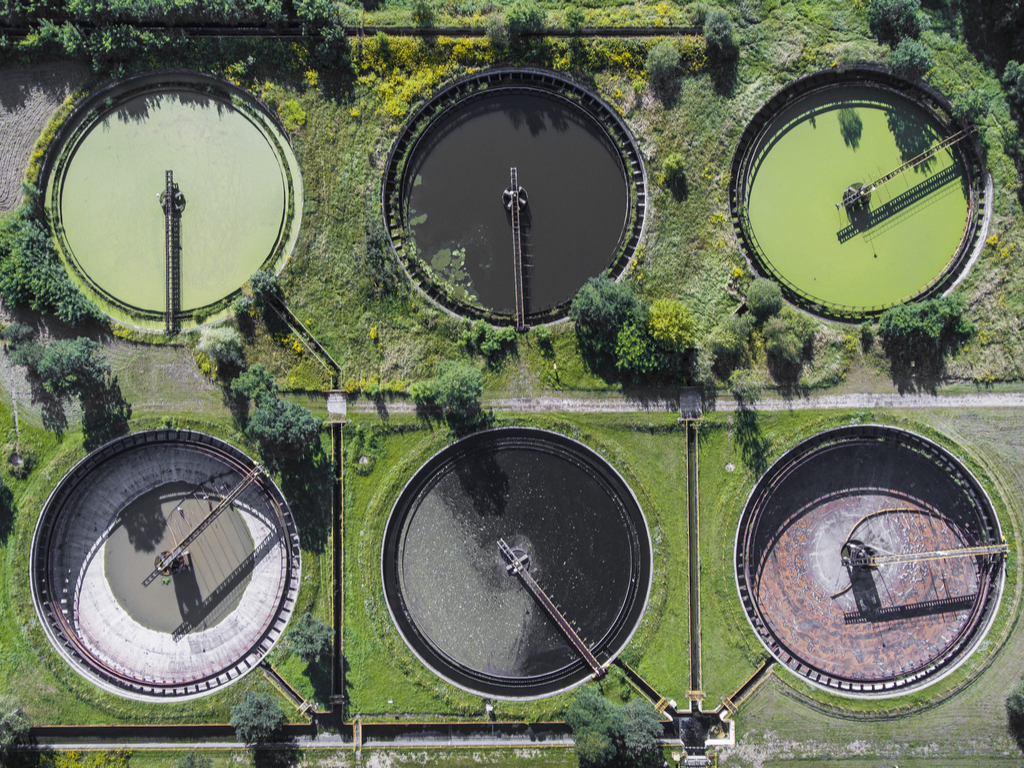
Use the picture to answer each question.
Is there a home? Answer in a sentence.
No, there's no home here.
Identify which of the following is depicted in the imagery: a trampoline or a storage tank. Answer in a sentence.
This aerial view contains a storage tank.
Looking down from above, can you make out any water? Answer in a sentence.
Yes, there's water in this view.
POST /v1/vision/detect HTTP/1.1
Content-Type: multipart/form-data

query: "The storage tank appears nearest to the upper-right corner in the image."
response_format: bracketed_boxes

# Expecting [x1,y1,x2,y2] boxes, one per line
[729,64,992,326]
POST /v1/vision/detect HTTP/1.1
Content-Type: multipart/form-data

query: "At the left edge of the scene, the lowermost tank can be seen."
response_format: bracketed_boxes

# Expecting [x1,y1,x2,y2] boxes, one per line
[29,430,301,701]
